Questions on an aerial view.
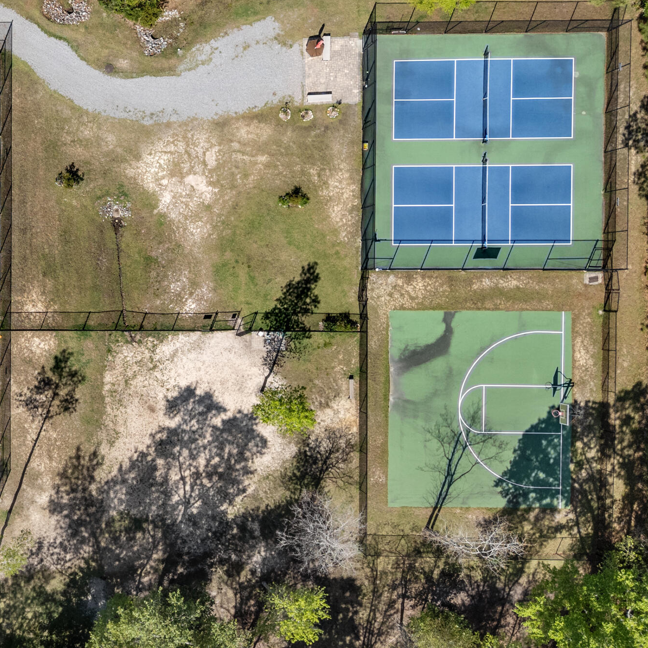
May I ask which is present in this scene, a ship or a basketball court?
basketball court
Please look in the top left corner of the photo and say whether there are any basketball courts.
No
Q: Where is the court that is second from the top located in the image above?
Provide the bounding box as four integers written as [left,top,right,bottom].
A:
[361,152,605,268]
